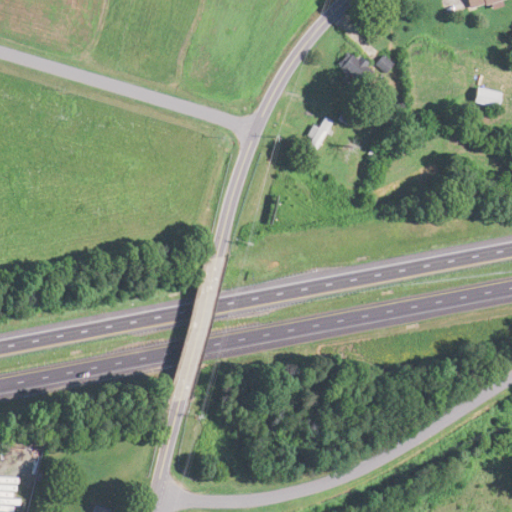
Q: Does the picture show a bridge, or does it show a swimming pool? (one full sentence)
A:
Visible in the photo is a bridge.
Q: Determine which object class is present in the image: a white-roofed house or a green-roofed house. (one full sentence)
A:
Visible in the photo is a white-roofed house.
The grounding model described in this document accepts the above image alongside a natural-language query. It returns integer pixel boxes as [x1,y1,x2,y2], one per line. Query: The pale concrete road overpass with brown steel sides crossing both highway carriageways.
[168,256,226,403]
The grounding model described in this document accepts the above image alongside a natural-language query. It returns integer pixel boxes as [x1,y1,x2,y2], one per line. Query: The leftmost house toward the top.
[308,118,333,148]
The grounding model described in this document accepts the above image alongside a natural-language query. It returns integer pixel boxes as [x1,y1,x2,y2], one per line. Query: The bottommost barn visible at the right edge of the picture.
[476,87,504,106]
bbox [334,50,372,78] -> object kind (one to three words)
house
